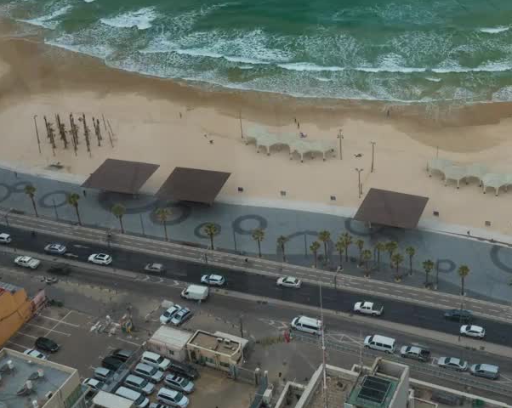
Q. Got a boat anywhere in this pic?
No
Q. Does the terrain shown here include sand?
Yes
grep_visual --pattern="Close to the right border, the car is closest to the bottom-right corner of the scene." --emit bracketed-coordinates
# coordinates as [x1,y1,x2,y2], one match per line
[472,363,497,379]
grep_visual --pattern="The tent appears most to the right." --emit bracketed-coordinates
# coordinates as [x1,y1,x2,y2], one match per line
[424,162,512,204]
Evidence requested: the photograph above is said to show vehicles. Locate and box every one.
[0,233,12,243]
[140,351,170,370]
[439,357,465,372]
[181,282,209,300]
[364,333,395,351]
[171,309,192,325]
[89,254,112,266]
[45,243,67,255]
[460,324,484,338]
[168,362,195,378]
[144,264,164,273]
[122,373,153,393]
[291,314,322,333]
[156,386,187,407]
[402,346,429,361]
[472,363,497,379]
[14,256,40,269]
[116,385,147,407]
[276,277,301,289]
[130,361,159,381]
[35,336,58,353]
[202,274,224,286]
[161,306,183,321]
[23,348,49,360]
[445,308,471,322]
[93,363,115,378]
[86,377,113,392]
[354,302,382,316]
[164,372,193,392]
[102,352,124,368]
